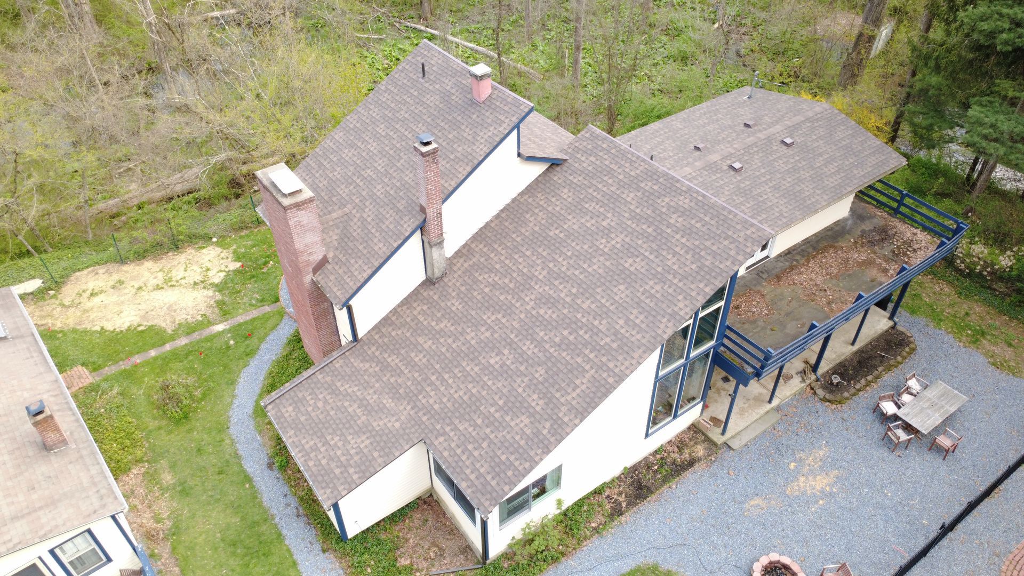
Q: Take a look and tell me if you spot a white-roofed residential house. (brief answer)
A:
Yes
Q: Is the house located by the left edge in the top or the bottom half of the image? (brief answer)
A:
bottom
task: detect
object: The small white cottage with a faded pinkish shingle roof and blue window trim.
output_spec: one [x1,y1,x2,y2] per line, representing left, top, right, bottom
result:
[0,280,141,576]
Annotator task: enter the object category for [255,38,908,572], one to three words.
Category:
house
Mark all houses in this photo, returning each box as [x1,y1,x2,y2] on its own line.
[255,38,908,572]
[0,280,141,576]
